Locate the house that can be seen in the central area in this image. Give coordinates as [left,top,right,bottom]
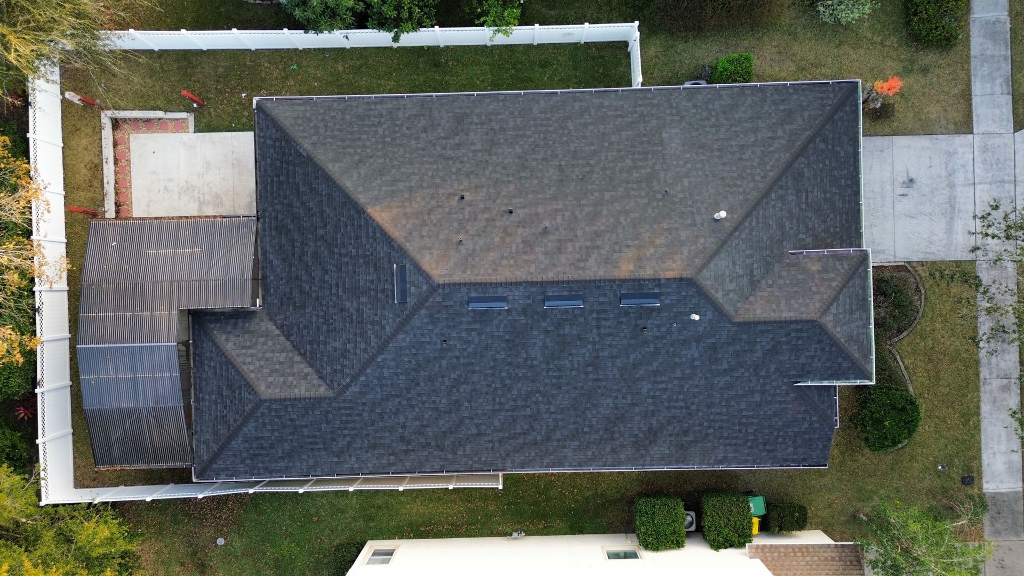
[189,79,876,482]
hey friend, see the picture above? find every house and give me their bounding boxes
[349,529,862,576]
[189,79,876,482]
